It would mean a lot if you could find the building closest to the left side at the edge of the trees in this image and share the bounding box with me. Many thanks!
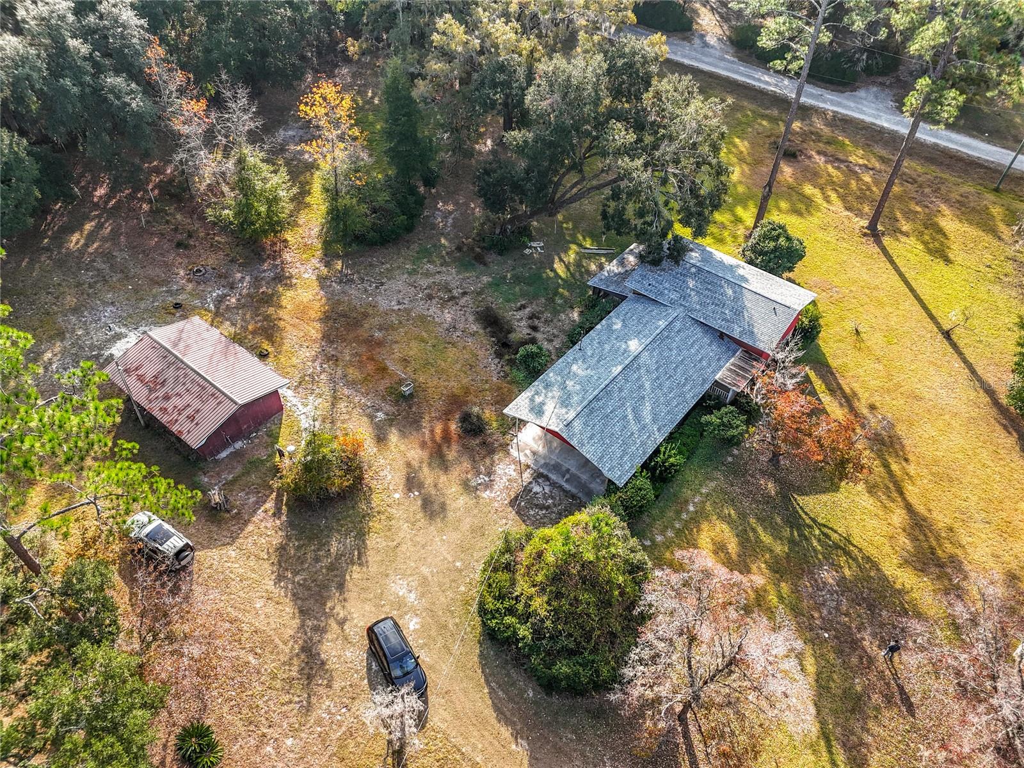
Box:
[101,316,292,464]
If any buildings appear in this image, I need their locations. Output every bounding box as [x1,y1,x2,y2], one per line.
[500,235,820,513]
[101,316,292,464]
